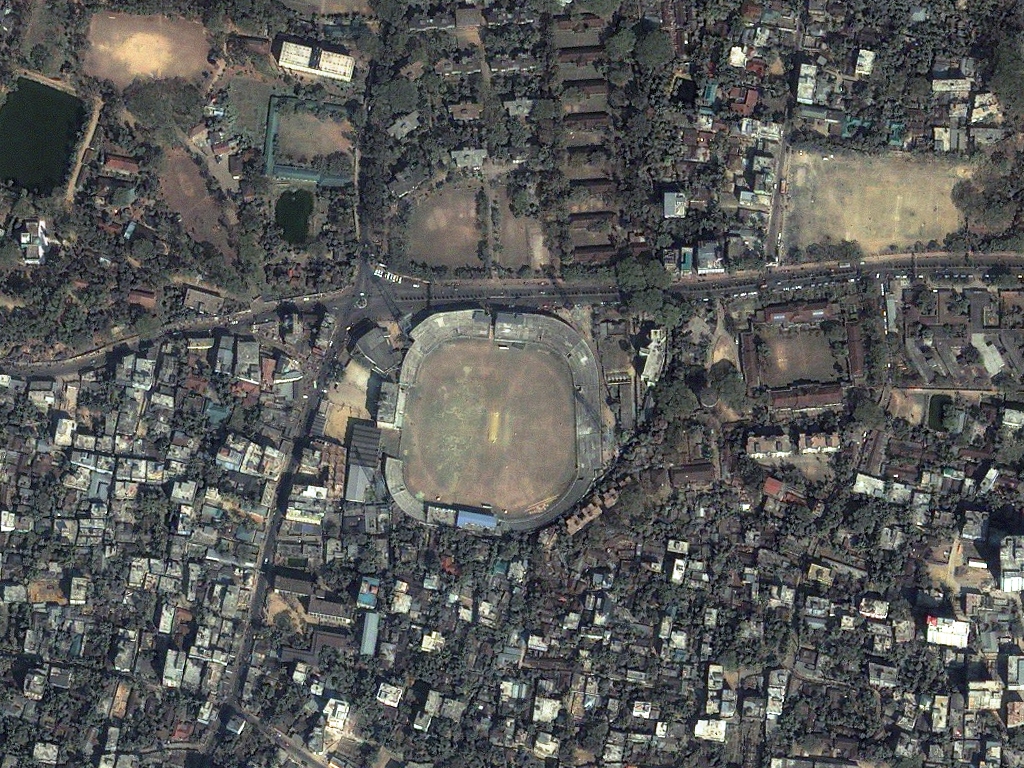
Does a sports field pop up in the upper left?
Yes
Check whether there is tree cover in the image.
Yes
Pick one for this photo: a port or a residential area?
residential area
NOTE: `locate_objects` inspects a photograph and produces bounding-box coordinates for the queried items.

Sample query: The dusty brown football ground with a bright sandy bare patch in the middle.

[84,10,211,95]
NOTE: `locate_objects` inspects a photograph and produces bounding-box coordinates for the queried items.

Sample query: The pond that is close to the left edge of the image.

[0,79,85,188]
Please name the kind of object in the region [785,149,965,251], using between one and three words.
sports field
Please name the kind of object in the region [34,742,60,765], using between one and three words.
house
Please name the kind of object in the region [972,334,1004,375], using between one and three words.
building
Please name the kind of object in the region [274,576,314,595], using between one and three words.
shed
